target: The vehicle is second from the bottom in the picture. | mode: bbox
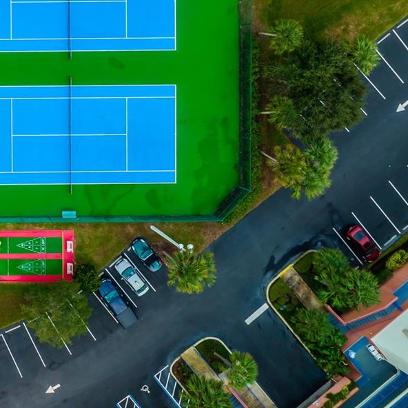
[113,255,153,299]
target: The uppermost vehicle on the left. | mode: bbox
[129,234,165,276]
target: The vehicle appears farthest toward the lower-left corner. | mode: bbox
[95,278,140,329]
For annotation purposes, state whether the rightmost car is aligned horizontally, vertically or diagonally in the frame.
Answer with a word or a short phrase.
diagonally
